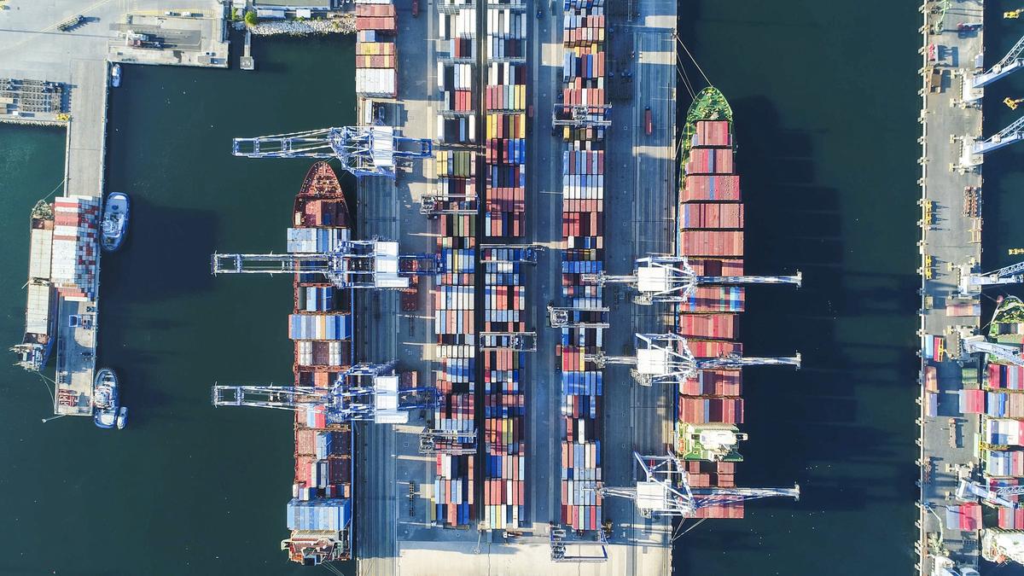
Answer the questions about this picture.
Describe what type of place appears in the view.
port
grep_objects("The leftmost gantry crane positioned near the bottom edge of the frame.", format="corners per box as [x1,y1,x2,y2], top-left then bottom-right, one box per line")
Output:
[549,526,609,563]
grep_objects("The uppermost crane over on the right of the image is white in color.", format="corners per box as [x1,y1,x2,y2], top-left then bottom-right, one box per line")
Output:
[948,27,1024,112]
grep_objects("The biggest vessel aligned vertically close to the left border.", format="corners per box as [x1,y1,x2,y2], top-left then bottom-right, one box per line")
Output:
[11,199,58,371]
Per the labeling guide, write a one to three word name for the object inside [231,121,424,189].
container crane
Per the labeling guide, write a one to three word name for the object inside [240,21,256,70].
pier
